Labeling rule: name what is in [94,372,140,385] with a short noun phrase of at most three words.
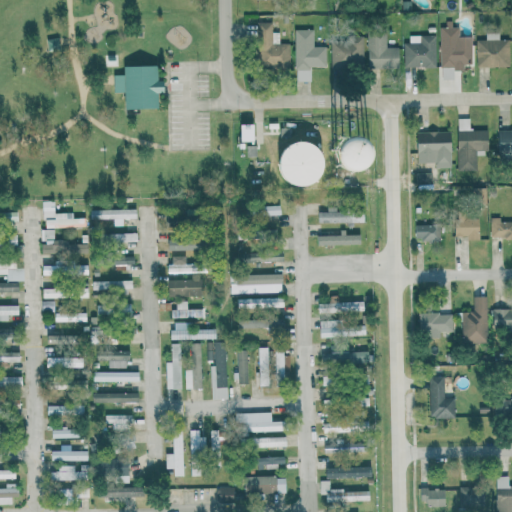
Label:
house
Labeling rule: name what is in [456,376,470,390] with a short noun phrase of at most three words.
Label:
swimming pool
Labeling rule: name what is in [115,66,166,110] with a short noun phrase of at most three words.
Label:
building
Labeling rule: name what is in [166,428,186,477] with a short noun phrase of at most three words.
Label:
house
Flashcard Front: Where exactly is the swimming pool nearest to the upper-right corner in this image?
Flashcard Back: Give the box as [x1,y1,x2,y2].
[456,12,474,36]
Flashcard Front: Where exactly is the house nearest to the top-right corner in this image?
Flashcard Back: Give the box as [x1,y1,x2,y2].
[478,33,511,67]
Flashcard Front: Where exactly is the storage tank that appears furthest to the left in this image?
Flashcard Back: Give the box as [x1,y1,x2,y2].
[278,141,326,186]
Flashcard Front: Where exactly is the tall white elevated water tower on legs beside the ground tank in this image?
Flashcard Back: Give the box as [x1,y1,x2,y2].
[330,132,376,170]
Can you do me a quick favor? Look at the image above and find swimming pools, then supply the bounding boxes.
[456,12,474,36]
[414,0,432,10]
[456,376,470,390]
